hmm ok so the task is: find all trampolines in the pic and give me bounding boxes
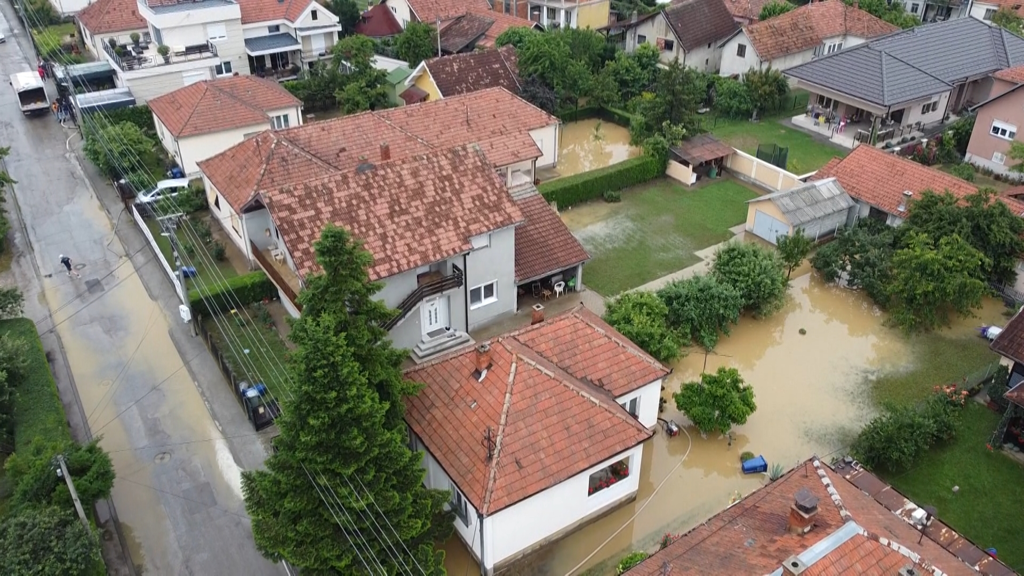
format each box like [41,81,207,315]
[761,141,793,171]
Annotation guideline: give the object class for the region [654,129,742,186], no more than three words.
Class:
shed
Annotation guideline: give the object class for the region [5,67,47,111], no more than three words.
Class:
truck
